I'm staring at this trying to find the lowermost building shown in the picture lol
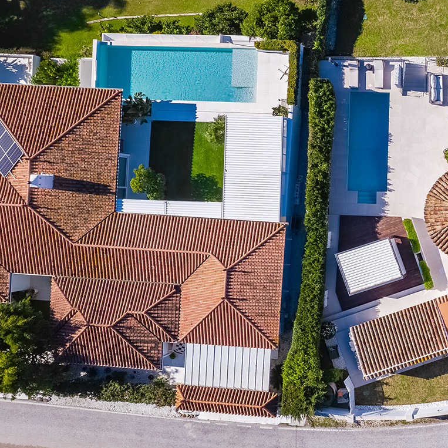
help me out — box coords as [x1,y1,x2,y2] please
[174,382,282,419]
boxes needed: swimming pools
[348,92,389,203]
[101,44,256,101]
